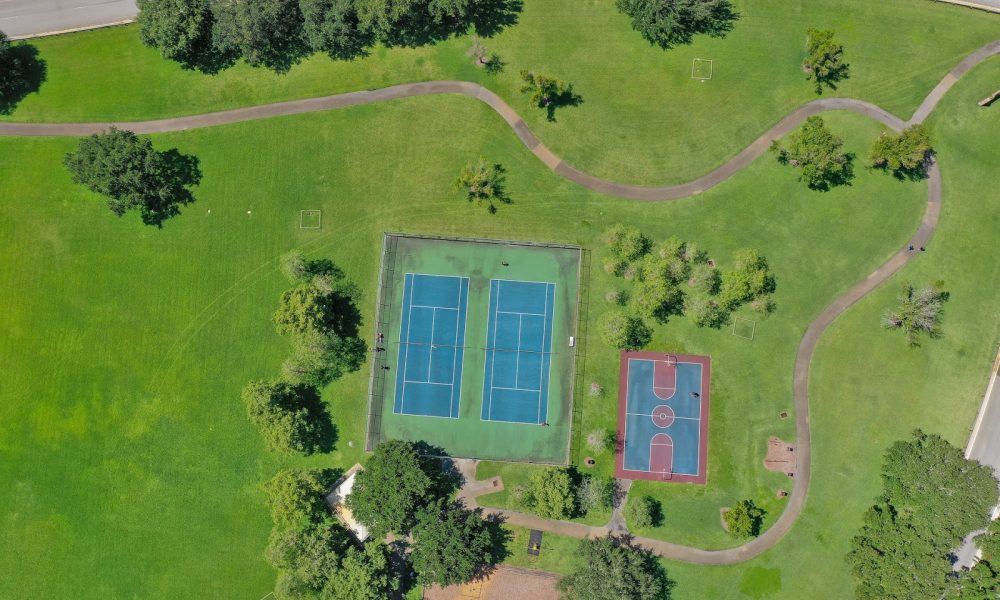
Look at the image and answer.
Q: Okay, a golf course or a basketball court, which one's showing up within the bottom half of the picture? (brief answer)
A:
basketball court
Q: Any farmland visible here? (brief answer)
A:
No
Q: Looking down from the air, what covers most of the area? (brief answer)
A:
grass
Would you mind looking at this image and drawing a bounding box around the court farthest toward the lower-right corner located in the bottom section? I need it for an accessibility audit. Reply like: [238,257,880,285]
[615,351,710,485]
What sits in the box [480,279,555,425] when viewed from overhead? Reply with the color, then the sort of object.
blue tennis court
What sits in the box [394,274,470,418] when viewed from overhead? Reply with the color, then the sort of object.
blue tennis court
